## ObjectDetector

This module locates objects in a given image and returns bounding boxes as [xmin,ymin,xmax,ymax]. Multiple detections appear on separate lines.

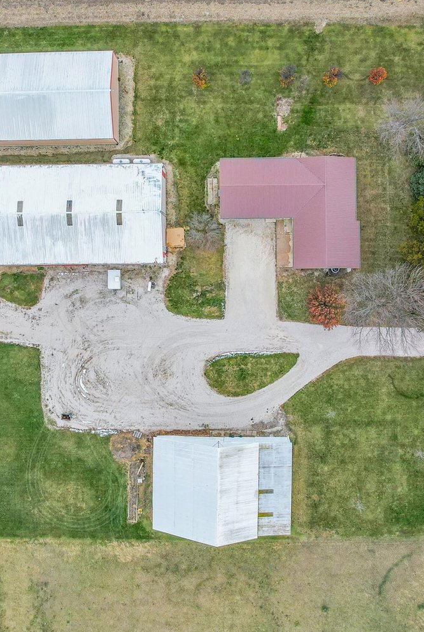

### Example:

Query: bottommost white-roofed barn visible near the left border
[0,163,167,266]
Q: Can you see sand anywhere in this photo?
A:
No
